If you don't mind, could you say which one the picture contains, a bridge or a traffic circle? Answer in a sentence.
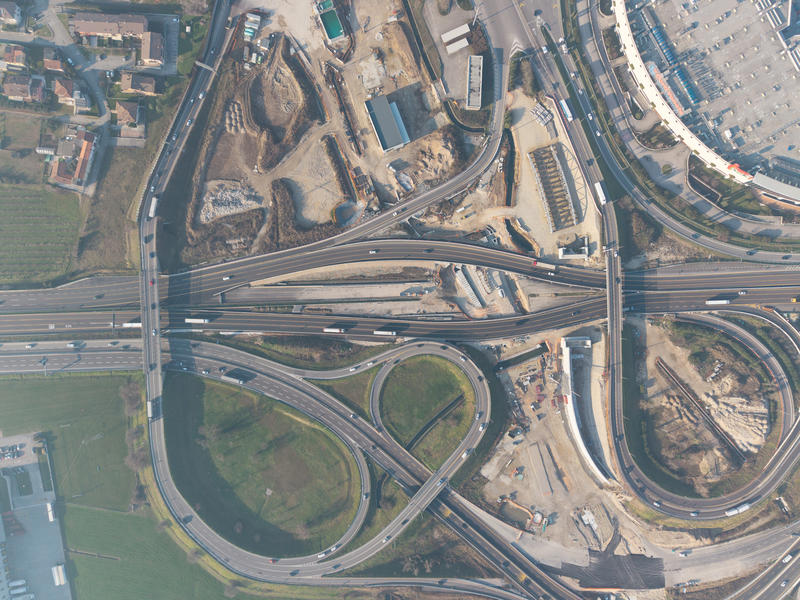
This aerial view contains a bridge.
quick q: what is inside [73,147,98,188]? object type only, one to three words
house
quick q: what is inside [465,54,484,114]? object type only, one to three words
building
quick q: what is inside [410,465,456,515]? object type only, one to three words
bridge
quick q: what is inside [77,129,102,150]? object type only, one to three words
house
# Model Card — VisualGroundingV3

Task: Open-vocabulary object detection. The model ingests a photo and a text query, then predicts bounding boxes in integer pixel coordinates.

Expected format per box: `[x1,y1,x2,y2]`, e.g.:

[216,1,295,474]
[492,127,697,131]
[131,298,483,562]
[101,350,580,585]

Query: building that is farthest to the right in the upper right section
[606,0,800,203]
